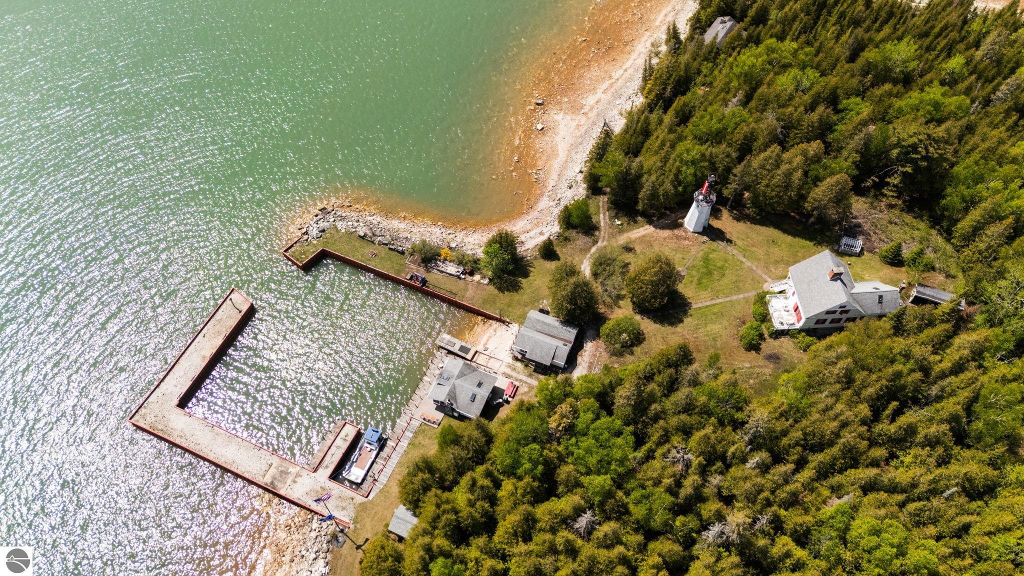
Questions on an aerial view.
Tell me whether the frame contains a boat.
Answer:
Yes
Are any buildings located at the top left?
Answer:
No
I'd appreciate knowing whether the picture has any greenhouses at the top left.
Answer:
No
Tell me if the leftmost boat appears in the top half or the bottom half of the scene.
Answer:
bottom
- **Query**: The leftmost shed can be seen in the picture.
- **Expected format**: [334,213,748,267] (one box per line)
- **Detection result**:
[388,506,424,534]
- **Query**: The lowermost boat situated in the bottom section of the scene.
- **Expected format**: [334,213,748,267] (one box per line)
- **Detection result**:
[343,423,385,487]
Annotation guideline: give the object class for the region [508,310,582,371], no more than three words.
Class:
house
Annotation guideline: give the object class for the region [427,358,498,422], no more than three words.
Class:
building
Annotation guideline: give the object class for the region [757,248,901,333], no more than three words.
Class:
house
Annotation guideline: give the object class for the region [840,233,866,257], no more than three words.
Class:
greenhouse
